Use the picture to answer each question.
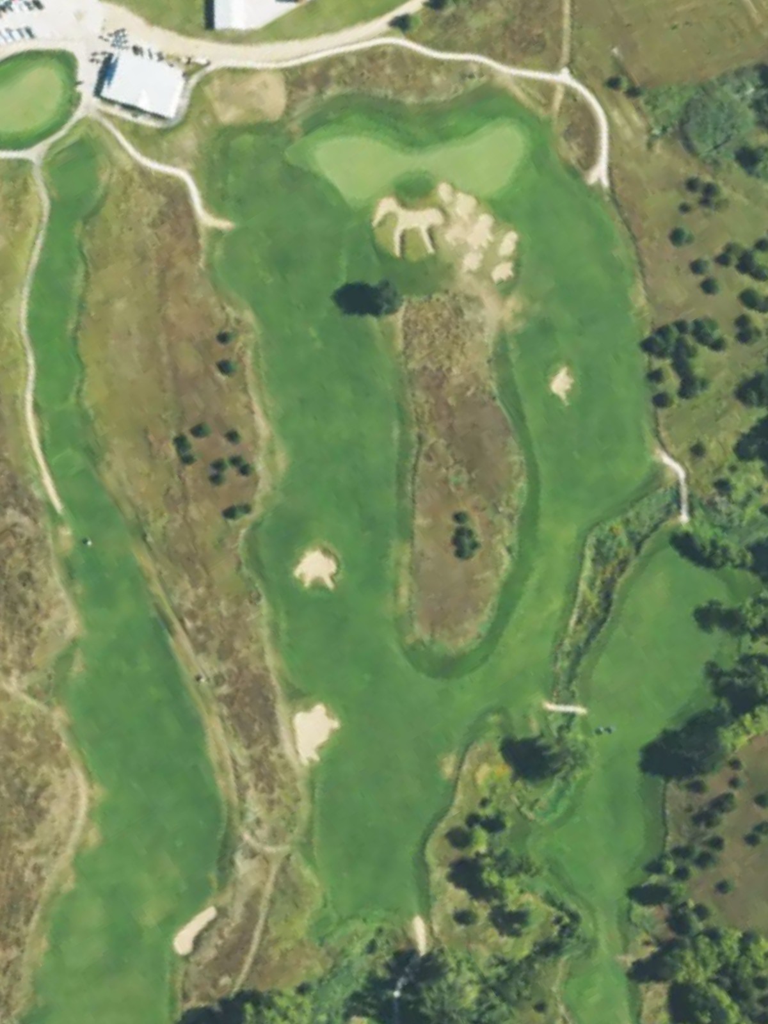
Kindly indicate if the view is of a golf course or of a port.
golf course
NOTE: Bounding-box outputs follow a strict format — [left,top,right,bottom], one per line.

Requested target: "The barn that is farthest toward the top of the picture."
[213,0,246,28]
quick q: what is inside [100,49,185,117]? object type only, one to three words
building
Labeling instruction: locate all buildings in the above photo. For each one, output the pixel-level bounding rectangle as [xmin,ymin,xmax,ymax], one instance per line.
[213,0,246,28]
[100,49,185,117]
